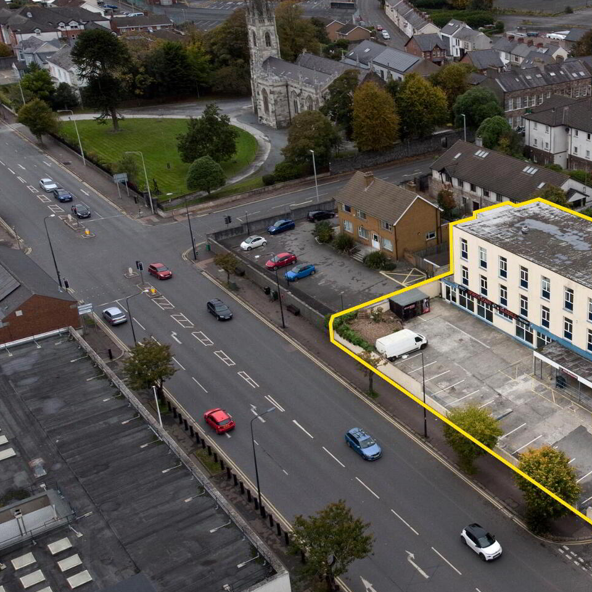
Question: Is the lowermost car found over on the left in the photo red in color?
Yes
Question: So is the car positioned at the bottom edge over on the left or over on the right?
right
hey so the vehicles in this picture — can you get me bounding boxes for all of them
[200,412,236,439]
[304,208,338,224]
[52,190,72,205]
[264,252,298,271]
[282,262,318,282]
[101,306,130,328]
[69,204,90,220]
[202,302,234,324]
[376,23,383,30]
[458,524,505,567]
[38,179,59,193]
[340,426,385,462]
[265,219,296,235]
[237,232,269,250]
[375,325,428,357]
